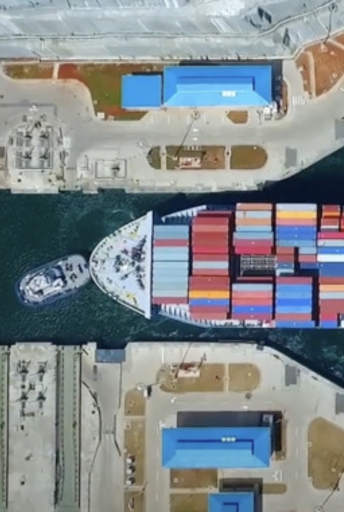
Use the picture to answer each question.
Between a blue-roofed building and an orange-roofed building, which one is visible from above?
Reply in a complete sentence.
Visible in the photo is a blue-roofed building.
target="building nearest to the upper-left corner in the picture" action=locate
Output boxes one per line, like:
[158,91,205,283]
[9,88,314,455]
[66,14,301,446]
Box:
[121,75,163,107]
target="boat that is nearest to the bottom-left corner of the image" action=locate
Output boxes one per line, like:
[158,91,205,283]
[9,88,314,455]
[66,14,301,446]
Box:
[14,257,93,305]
